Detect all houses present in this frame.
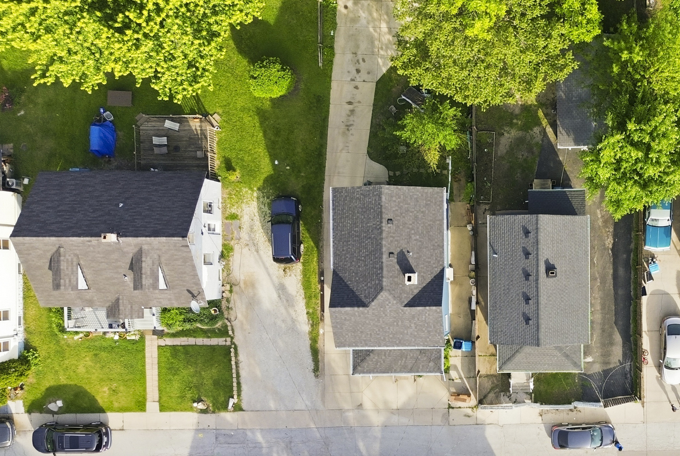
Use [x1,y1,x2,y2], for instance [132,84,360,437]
[327,156,455,380]
[6,171,222,333]
[487,184,592,393]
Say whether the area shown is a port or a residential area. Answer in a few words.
residential area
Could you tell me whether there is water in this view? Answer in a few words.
No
